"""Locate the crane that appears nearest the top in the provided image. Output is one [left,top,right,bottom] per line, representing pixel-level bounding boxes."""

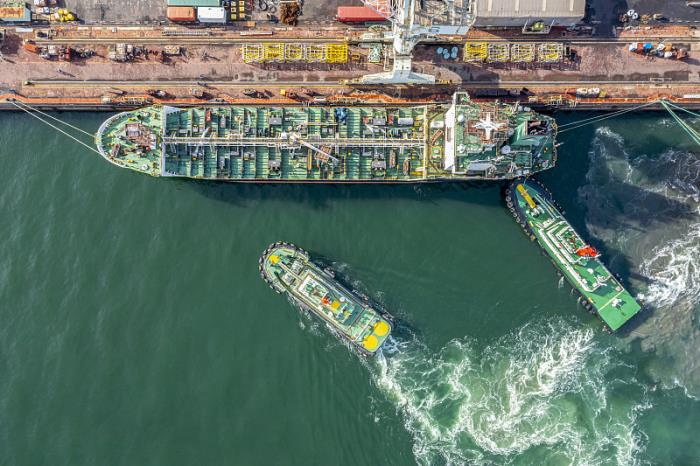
[360,0,481,85]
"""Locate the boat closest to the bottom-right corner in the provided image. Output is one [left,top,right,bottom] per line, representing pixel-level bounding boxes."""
[506,176,645,329]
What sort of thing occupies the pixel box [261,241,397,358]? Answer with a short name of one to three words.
boat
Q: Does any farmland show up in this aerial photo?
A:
No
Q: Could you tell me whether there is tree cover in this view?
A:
No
